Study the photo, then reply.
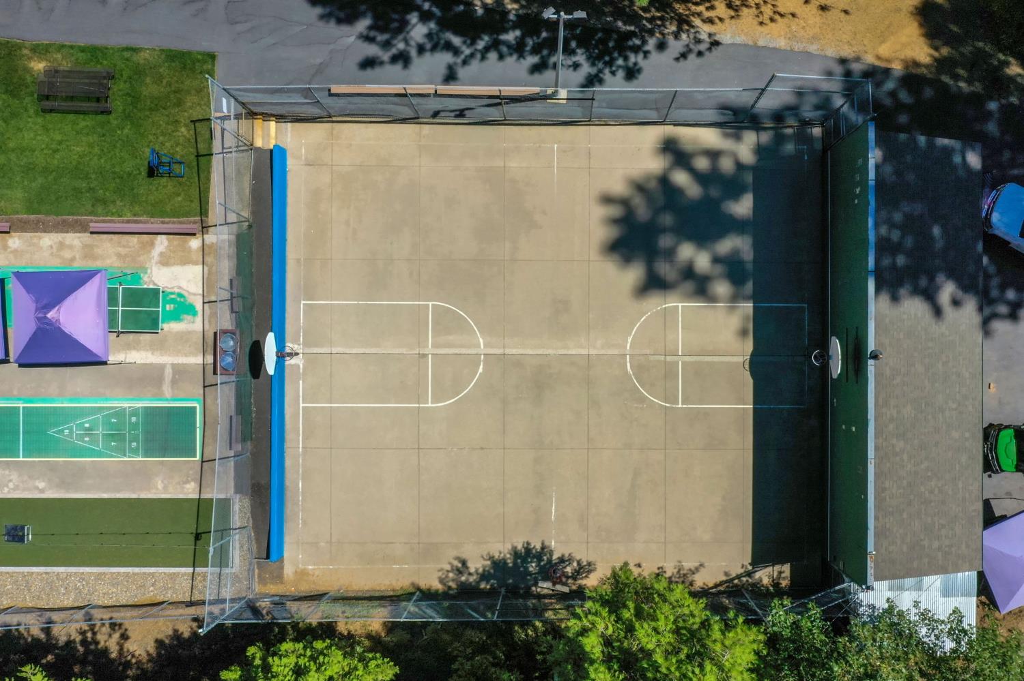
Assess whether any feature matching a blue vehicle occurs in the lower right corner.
No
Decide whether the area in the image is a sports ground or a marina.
sports ground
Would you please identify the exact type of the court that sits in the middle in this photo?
basketball court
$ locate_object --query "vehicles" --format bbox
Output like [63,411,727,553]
[983,186,1024,256]
[983,420,1024,479]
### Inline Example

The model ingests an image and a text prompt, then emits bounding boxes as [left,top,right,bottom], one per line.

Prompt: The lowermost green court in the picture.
[0,499,232,568]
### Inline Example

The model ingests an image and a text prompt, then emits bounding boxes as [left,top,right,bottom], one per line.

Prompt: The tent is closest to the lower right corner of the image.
[976,512,1024,613]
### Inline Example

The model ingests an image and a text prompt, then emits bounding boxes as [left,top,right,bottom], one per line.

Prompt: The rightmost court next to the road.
[258,122,830,600]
